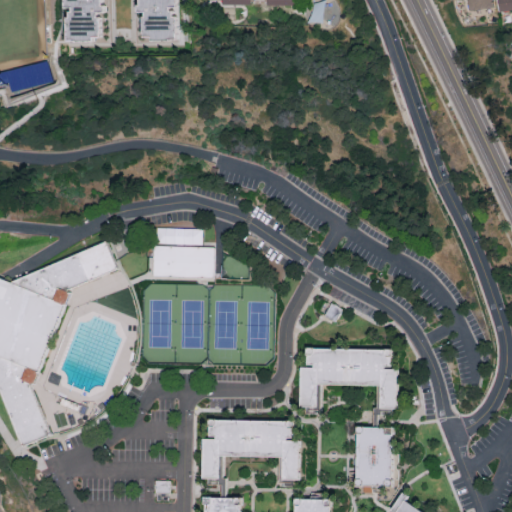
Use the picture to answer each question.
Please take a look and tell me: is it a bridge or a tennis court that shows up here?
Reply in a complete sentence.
The image shows a tennis court.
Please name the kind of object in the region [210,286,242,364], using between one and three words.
tennis court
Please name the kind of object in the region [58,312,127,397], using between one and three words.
swimming pool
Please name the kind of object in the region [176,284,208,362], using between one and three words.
tennis court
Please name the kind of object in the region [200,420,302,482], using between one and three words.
building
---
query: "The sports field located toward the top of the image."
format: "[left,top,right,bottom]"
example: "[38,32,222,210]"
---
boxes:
[0,0,47,72]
